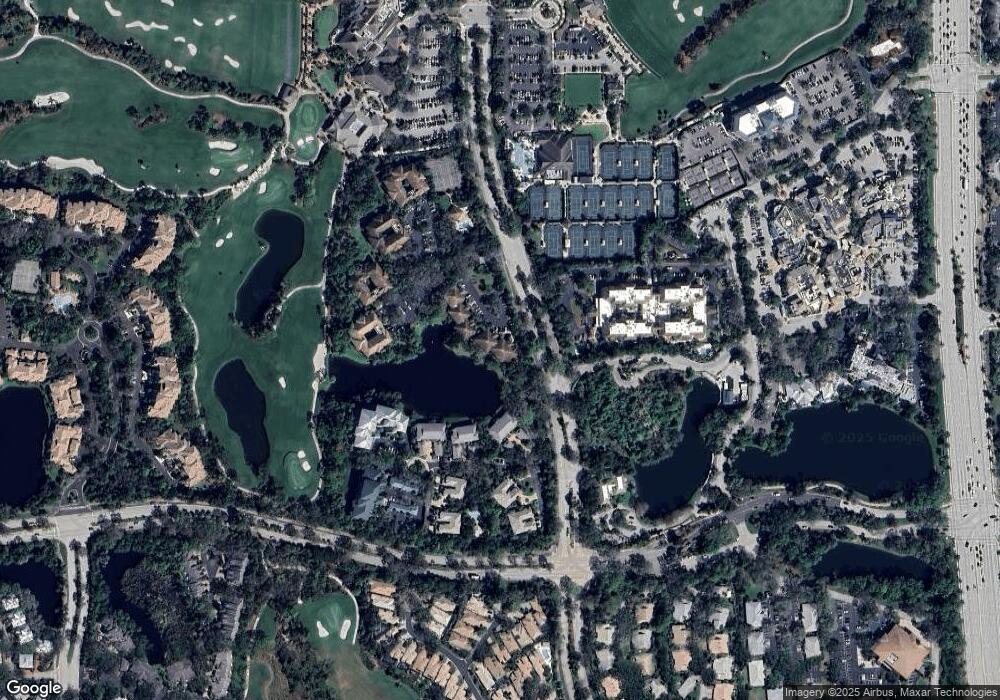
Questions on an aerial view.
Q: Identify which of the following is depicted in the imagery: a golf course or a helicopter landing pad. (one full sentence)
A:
Looking from above, you can make out a golf course.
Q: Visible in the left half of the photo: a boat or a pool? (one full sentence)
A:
Looking in the left half of the photo, you will find a pool.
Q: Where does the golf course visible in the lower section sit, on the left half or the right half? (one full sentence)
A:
The golf course visible in the lower section appears in the left half of the scene.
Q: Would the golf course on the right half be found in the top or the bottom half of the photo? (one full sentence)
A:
Seen from above, the golf course on the right half lies in the top half of the view.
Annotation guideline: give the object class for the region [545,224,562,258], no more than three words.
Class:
tennis court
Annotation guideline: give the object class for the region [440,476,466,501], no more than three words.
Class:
house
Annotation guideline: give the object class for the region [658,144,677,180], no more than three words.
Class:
tennis court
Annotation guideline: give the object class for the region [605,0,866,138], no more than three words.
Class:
golf course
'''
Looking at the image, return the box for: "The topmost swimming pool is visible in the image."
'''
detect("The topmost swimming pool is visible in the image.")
[508,138,536,186]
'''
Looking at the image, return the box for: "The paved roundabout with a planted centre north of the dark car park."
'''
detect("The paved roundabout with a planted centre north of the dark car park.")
[530,0,562,28]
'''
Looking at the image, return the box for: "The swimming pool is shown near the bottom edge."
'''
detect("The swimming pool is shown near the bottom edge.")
[534,638,552,671]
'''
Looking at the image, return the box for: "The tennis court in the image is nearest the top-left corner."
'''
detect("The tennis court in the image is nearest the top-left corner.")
[13,260,41,293]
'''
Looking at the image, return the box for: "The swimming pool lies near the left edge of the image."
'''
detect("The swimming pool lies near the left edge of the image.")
[48,288,78,313]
